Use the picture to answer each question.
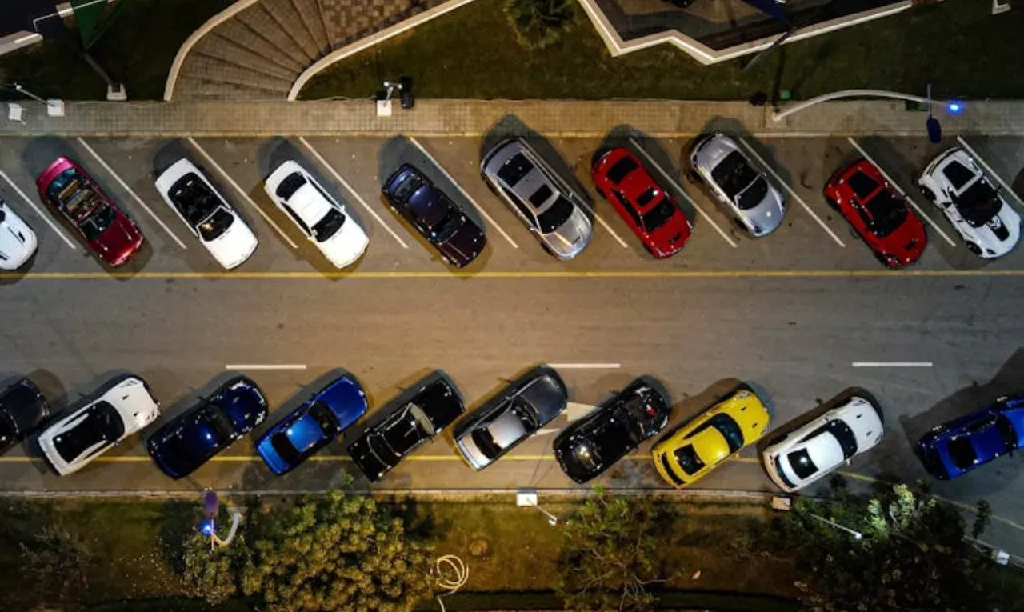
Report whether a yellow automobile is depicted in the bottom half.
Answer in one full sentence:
Yes, a yellow automobile appears in the bottom half.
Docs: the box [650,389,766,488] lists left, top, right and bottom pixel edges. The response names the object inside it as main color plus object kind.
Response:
yellow car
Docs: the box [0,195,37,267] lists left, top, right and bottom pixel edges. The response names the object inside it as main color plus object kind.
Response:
white car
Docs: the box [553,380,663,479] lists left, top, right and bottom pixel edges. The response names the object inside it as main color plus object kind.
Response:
black car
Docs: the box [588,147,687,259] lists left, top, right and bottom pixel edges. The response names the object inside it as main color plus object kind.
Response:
red car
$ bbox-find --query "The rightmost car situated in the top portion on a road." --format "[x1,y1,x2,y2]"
[913,150,1014,255]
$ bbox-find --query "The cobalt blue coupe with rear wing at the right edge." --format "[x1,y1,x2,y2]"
[913,399,1024,480]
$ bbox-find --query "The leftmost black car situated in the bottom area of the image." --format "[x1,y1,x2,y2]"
[0,380,52,452]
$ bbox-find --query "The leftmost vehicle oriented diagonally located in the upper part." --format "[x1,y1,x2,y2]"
[39,157,141,261]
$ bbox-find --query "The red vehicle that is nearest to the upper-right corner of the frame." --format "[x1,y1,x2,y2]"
[821,161,919,263]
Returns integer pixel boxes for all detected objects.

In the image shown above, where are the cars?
[759,398,877,493]
[382,163,483,265]
[157,158,255,264]
[0,380,52,452]
[150,378,266,479]
[39,157,141,261]
[553,380,663,479]
[0,195,37,267]
[257,372,366,471]
[821,161,919,263]
[265,161,363,266]
[687,137,779,234]
[481,139,589,257]
[588,147,687,259]
[348,376,460,477]
[913,399,1024,480]
[39,380,159,472]
[913,150,1014,255]
[650,389,766,488]
[451,369,564,469]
